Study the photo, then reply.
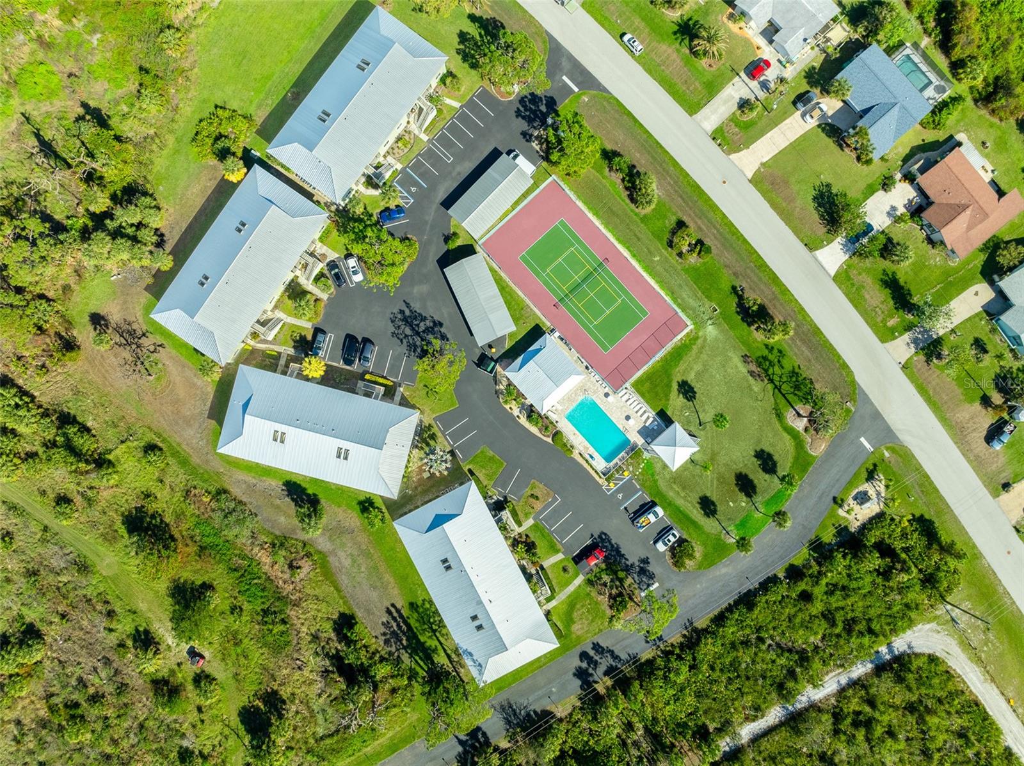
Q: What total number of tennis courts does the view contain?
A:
1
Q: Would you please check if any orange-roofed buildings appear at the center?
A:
No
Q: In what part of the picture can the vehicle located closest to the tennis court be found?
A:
top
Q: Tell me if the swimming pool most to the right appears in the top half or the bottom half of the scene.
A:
top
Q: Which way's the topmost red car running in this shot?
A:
diagonally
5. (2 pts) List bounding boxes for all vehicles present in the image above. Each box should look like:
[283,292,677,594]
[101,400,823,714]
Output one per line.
[990,419,1020,449]
[380,207,406,222]
[312,331,327,356]
[804,103,828,124]
[511,151,537,175]
[749,60,772,81]
[361,341,375,367]
[795,92,817,111]
[186,650,204,666]
[635,506,665,533]
[343,336,358,366]
[328,262,347,288]
[576,547,607,573]
[656,529,679,552]
[622,32,644,56]
[346,256,364,283]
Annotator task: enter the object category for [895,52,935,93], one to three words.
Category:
swimming pool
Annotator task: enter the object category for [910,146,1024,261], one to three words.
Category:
house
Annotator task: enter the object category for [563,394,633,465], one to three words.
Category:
swimming pool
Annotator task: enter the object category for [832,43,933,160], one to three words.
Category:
house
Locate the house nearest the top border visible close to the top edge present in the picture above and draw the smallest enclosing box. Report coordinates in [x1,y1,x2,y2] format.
[733,0,841,58]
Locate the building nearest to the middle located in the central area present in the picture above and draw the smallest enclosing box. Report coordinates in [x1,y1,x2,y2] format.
[505,333,586,414]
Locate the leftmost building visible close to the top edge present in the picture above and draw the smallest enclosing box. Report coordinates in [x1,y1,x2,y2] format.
[266,6,447,206]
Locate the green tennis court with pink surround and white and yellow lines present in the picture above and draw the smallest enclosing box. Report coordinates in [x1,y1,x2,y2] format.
[482,179,690,390]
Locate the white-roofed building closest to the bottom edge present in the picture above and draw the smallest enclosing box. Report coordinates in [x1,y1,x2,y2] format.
[393,480,560,687]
